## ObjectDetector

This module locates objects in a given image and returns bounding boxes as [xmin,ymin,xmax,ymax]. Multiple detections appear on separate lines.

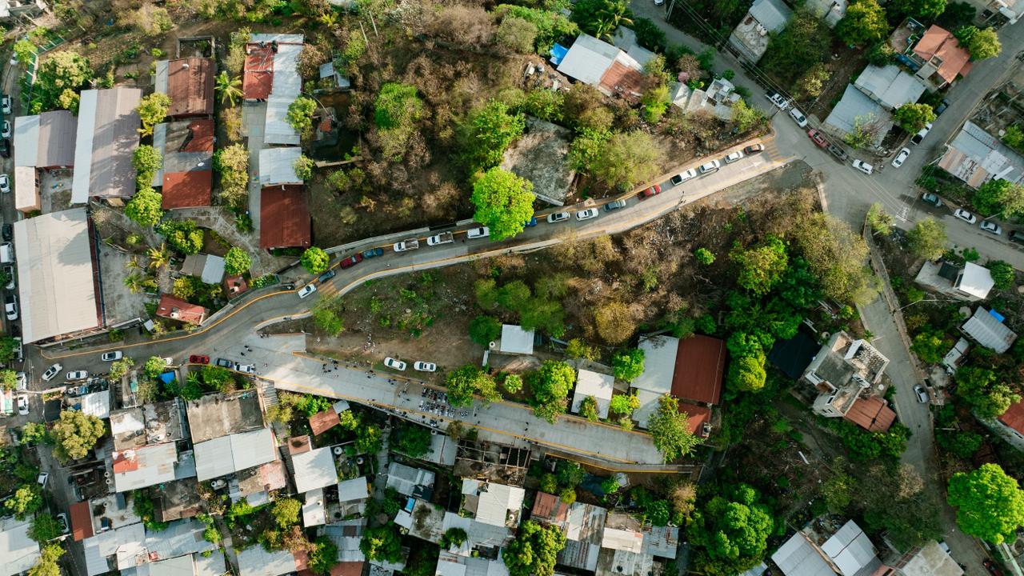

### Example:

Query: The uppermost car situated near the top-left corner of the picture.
[8,52,21,71]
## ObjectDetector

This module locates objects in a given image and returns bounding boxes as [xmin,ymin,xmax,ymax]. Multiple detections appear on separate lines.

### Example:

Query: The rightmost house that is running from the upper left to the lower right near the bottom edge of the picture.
[812,514,896,576]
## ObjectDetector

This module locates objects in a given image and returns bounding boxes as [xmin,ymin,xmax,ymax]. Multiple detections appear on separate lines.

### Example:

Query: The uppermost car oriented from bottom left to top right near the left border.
[41,363,62,381]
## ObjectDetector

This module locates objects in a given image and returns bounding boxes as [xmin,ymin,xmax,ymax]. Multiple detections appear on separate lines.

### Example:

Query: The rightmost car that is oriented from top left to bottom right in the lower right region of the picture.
[982,556,1002,576]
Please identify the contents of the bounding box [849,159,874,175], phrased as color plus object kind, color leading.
white car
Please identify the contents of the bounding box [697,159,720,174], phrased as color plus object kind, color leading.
white car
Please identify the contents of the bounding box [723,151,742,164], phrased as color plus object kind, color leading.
white vehicle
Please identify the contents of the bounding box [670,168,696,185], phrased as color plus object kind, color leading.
white vehicle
